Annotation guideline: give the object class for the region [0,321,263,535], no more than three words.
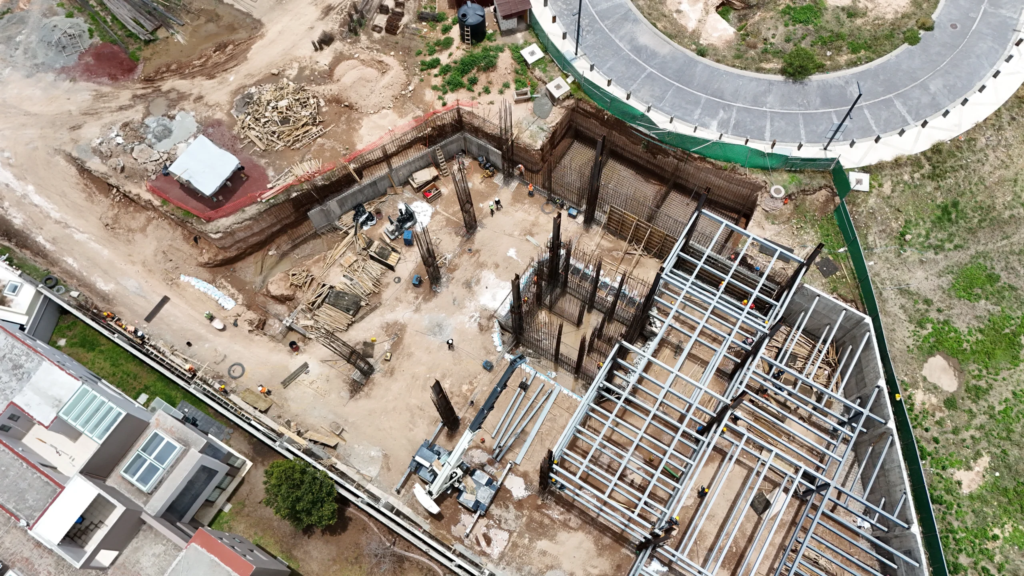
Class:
house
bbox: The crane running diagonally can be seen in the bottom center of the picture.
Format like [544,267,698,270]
[391,347,528,541]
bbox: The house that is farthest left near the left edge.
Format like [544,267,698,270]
[0,262,65,331]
